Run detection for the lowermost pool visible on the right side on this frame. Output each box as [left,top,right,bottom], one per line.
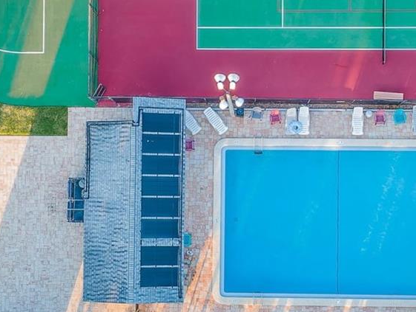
[213,138,416,307]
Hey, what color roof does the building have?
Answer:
blue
